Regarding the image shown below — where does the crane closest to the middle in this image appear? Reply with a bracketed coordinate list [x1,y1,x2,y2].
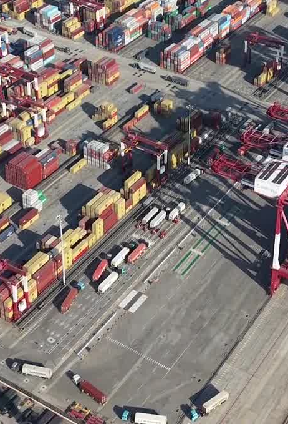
[123,130,178,186]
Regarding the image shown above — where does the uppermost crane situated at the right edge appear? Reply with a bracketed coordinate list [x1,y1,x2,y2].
[246,23,288,63]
